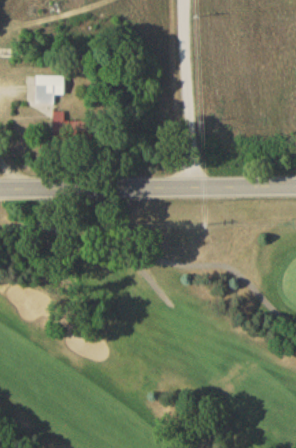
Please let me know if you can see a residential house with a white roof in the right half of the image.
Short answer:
No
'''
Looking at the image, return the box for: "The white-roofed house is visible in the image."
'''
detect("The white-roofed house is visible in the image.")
[35,74,64,103]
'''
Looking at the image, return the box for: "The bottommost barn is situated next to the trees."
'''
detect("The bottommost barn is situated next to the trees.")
[53,111,80,132]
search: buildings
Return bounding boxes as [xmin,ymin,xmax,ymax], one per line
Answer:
[35,74,64,103]
[53,111,80,132]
